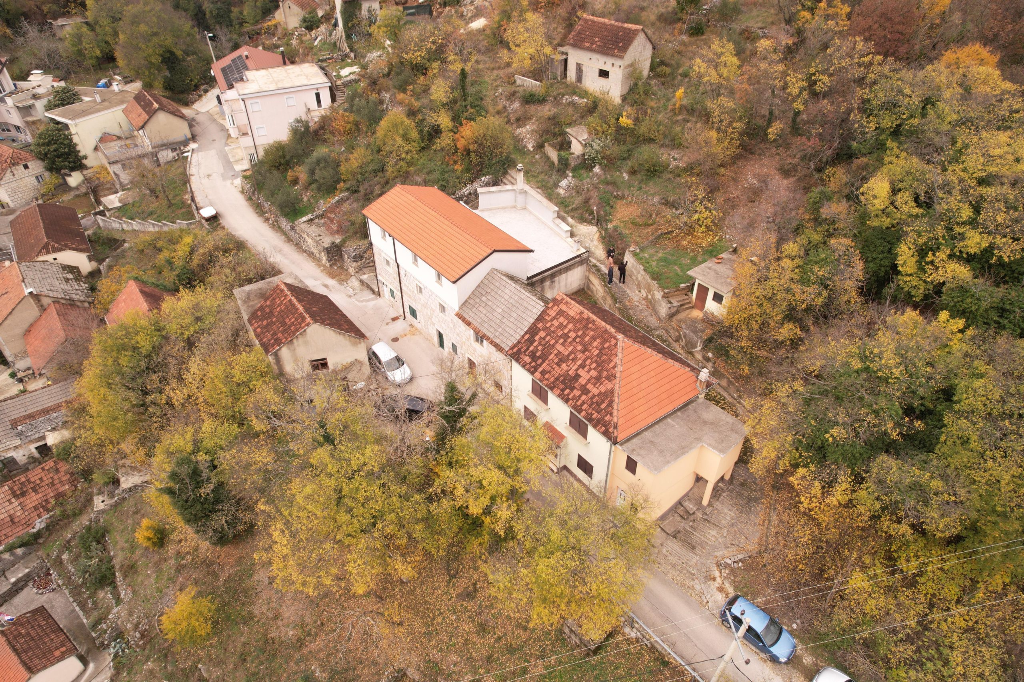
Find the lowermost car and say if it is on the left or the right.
right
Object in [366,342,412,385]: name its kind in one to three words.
car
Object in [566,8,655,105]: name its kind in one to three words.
building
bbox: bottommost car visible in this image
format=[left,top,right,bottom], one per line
[799,661,850,682]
